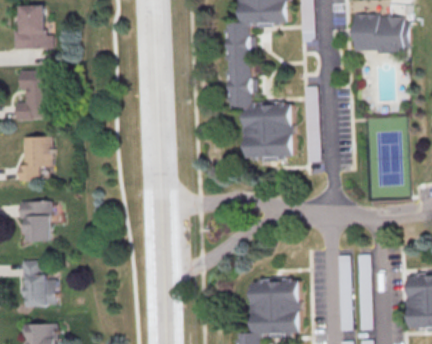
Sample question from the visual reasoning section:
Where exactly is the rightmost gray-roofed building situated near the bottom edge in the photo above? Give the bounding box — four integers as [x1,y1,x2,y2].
[400,272,432,331]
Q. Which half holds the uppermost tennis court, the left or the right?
right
